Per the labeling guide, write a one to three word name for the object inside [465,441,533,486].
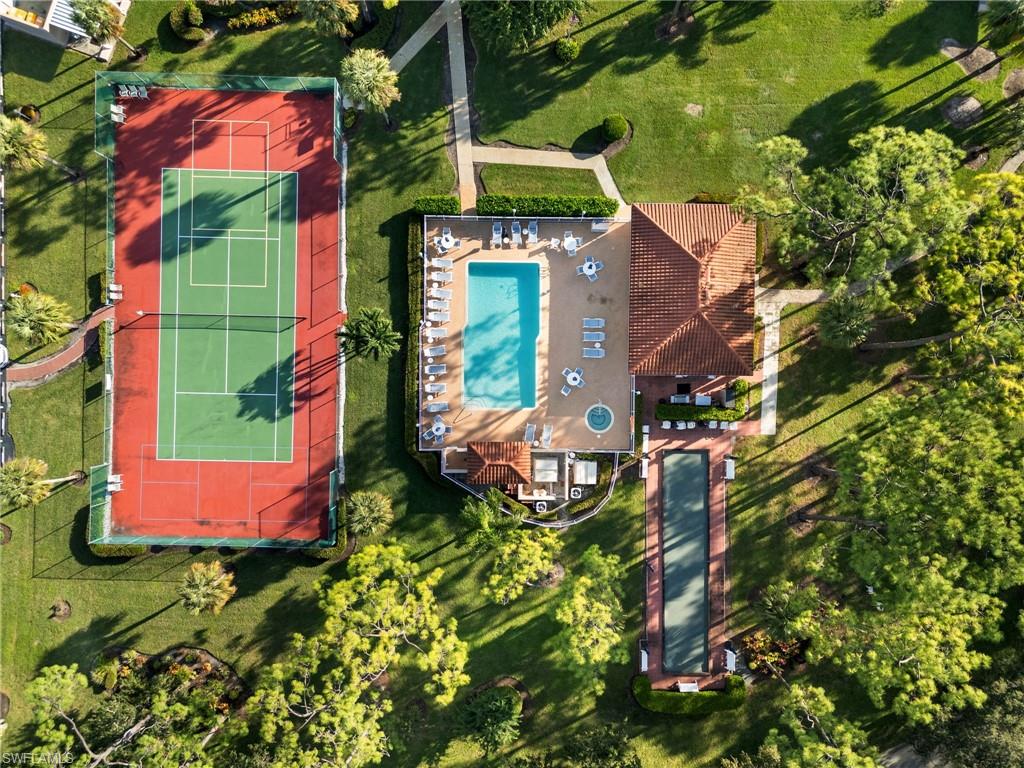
building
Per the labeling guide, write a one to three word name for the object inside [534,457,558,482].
shed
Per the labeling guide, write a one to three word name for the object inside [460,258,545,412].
swimming pool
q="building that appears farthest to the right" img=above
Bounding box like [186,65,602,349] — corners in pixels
[628,202,756,377]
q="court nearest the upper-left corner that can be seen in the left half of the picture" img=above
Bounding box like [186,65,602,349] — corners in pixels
[107,87,347,541]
